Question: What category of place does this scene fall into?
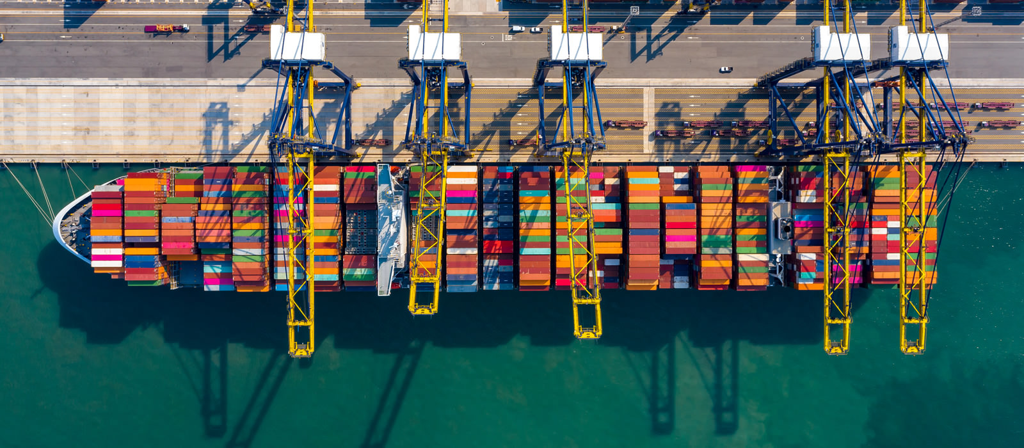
port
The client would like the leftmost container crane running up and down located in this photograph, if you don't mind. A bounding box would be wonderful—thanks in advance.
[259,0,368,360]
